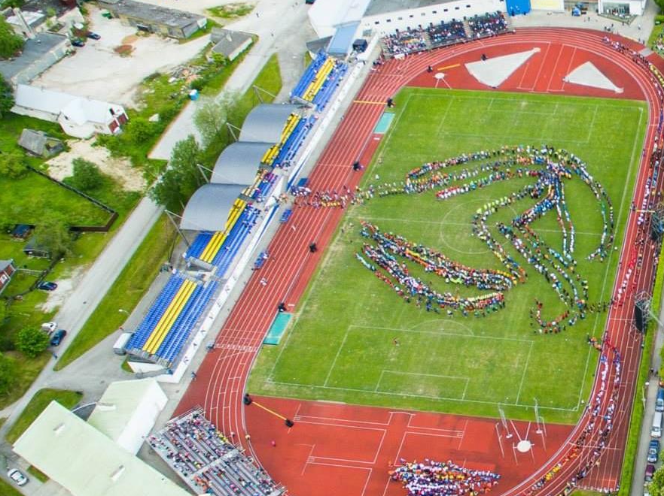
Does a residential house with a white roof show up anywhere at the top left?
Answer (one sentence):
Yes, there is a residential house with a white roof at the top left.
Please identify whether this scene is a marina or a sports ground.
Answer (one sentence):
It's a sports ground.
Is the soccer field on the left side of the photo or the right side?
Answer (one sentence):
You can find the soccer field on the right side of the picture.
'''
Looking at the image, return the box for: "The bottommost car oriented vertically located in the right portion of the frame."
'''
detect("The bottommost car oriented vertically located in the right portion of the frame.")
[643,461,656,482]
